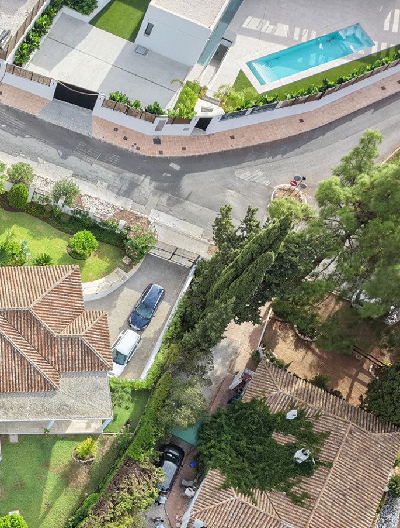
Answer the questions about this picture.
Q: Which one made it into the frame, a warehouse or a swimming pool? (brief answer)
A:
swimming pool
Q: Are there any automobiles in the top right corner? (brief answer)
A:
No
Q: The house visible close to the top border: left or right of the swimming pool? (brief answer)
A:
to the left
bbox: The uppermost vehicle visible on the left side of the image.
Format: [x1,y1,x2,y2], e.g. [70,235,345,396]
[129,280,165,327]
